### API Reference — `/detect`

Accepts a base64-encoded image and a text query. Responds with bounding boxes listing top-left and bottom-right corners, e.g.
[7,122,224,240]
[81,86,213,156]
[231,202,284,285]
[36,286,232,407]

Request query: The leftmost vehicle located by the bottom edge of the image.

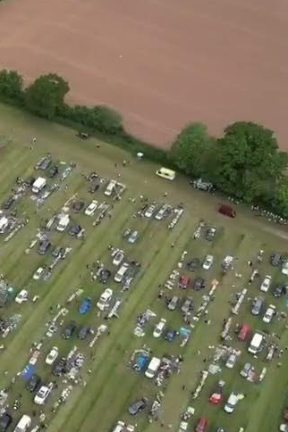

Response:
[0,411,15,432]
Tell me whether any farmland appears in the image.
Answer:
Yes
